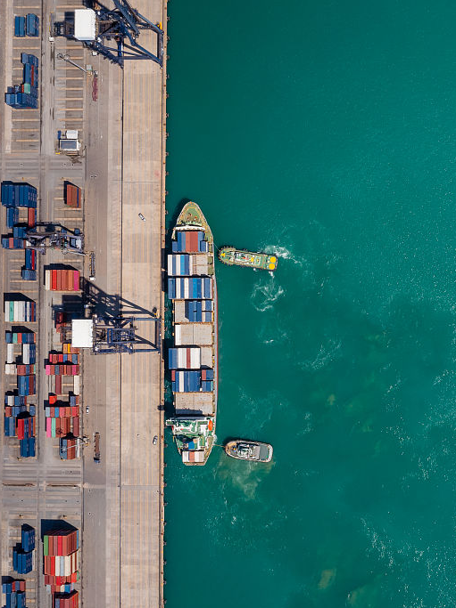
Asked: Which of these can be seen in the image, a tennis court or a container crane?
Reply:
container crane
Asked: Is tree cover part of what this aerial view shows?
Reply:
No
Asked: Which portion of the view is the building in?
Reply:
top left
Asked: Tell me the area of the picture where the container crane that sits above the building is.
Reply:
top left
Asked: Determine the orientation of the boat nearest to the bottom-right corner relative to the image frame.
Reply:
from left to right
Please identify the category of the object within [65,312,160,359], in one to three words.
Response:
container crane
